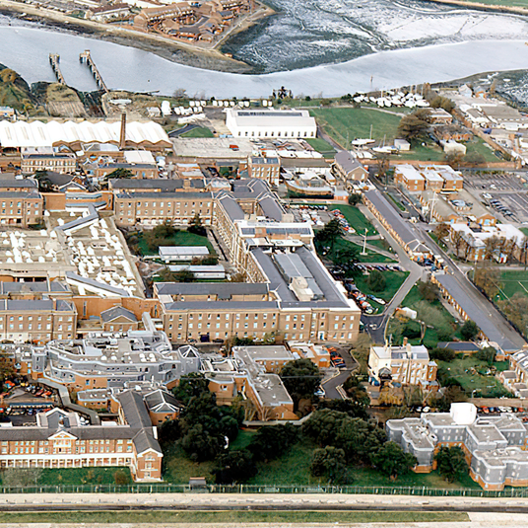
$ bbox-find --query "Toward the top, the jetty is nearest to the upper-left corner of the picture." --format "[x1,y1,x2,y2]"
[43,48,67,85]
